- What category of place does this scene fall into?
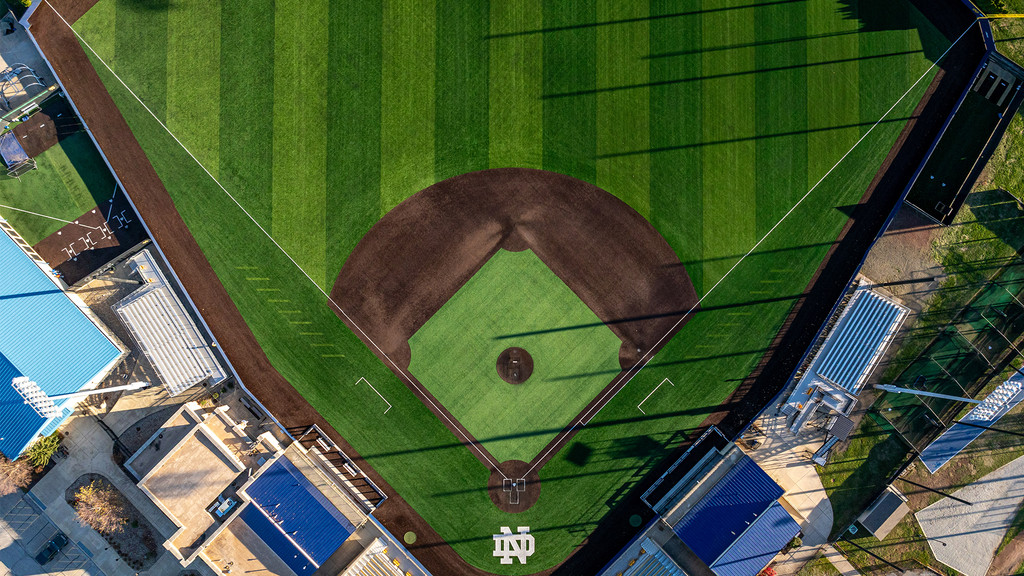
sports ground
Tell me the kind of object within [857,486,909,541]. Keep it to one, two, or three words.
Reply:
shed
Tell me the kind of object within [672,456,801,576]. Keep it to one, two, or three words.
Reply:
building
